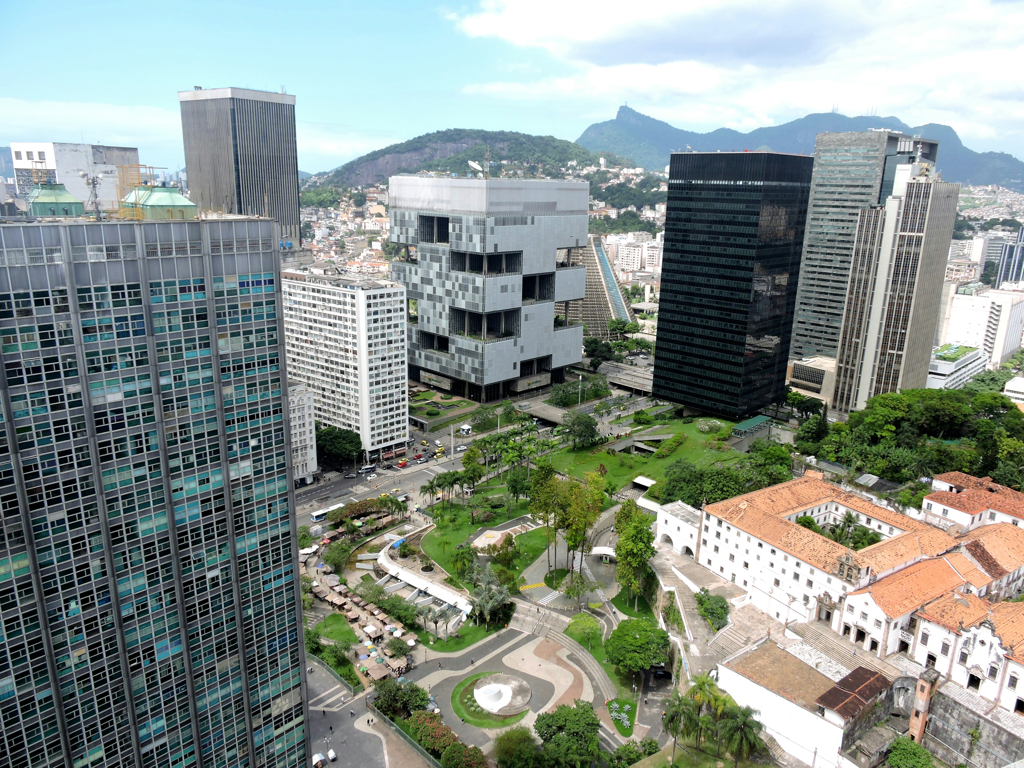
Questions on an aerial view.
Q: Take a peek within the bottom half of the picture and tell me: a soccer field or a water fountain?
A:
water fountain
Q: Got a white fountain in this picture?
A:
Yes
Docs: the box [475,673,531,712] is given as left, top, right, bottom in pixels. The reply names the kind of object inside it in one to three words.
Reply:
fountain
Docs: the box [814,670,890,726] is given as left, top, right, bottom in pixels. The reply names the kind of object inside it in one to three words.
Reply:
shed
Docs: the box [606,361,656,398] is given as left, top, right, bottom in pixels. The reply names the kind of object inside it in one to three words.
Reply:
overpass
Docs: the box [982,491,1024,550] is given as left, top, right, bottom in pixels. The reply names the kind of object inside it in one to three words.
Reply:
building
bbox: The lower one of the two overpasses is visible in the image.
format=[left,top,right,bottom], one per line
[519,396,573,428]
